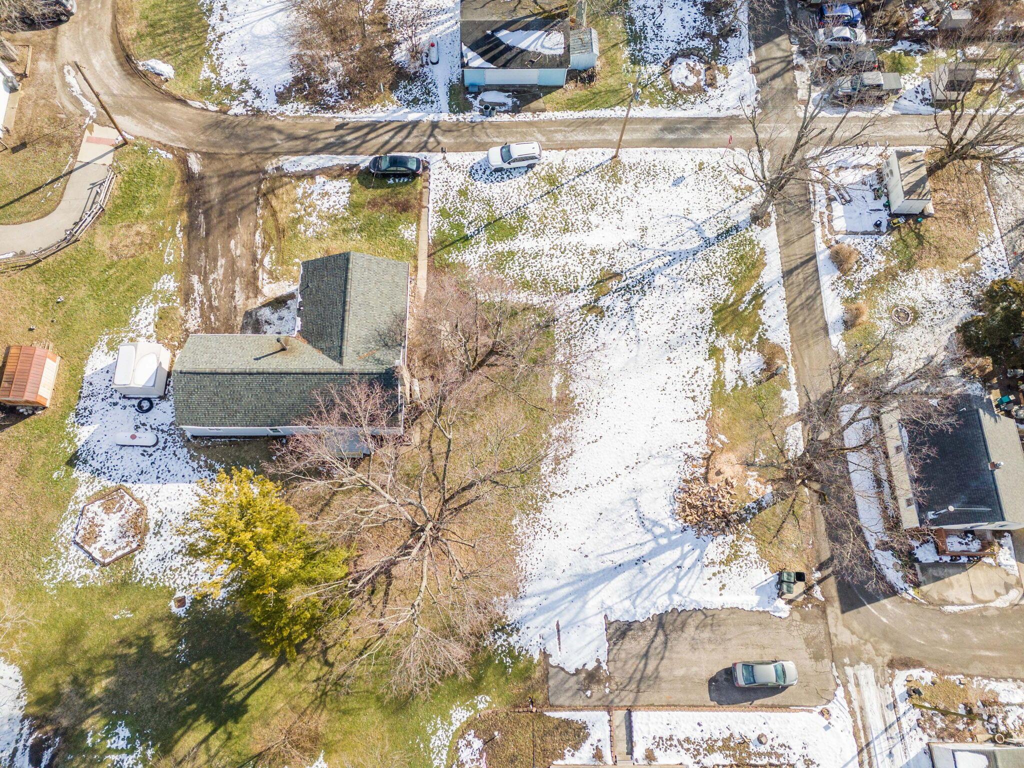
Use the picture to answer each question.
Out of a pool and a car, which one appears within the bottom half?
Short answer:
car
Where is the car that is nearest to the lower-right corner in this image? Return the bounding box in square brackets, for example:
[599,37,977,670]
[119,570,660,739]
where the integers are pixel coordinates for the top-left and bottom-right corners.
[731,658,798,689]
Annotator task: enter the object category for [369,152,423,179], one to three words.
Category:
car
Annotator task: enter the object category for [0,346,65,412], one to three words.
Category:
shed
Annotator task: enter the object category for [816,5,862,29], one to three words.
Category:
car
